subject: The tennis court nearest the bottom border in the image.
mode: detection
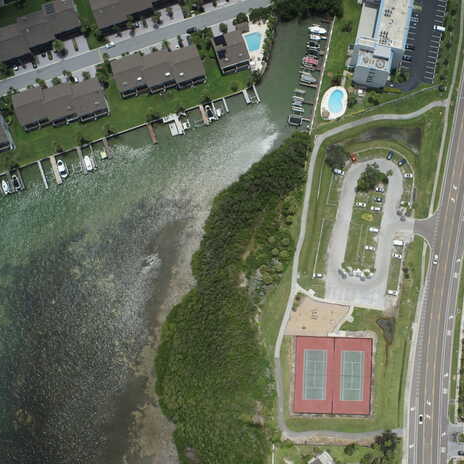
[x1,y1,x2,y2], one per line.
[294,337,372,415]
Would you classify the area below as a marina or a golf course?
marina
